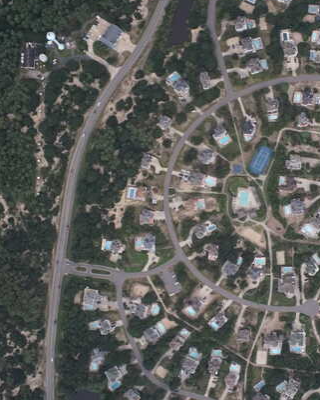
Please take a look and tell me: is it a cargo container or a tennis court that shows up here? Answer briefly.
tennis court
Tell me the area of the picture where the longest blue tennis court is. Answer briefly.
right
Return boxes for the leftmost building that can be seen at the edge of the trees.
[20,47,35,68]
